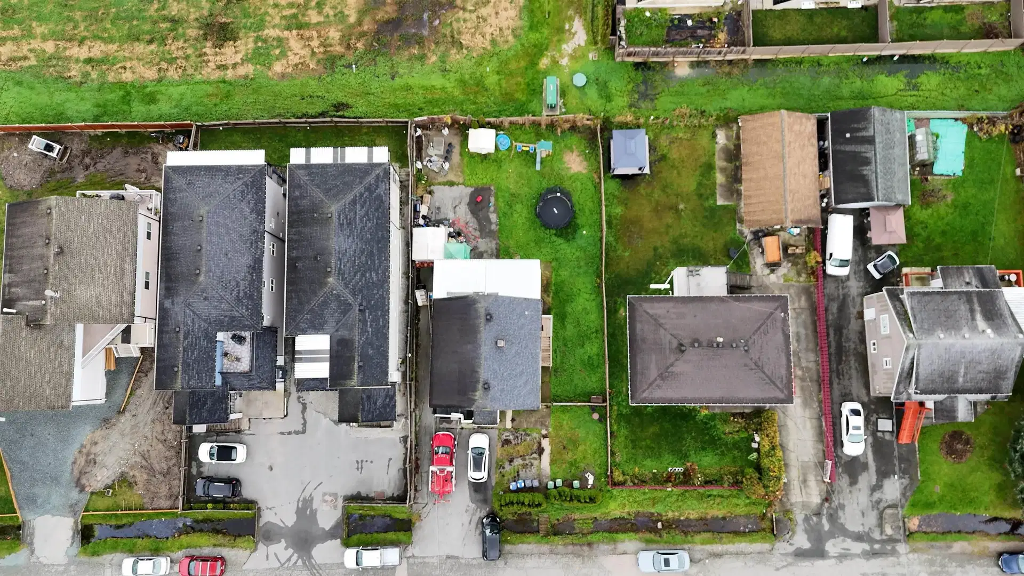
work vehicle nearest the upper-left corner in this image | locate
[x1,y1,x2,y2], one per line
[23,132,74,167]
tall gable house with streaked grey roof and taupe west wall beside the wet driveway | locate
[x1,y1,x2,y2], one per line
[863,266,1024,443]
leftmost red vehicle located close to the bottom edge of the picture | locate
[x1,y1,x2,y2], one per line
[179,553,229,576]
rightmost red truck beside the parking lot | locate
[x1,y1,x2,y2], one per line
[429,430,456,506]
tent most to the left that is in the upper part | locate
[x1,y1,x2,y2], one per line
[469,128,496,156]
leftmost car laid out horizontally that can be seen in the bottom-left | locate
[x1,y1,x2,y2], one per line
[122,553,173,576]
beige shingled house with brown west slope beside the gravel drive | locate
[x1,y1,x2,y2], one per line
[0,193,160,410]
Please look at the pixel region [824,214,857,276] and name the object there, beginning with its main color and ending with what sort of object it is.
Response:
white van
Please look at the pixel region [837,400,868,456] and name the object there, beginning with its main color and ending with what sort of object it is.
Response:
white car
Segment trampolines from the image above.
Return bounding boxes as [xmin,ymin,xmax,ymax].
[536,189,575,230]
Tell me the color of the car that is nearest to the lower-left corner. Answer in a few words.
white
